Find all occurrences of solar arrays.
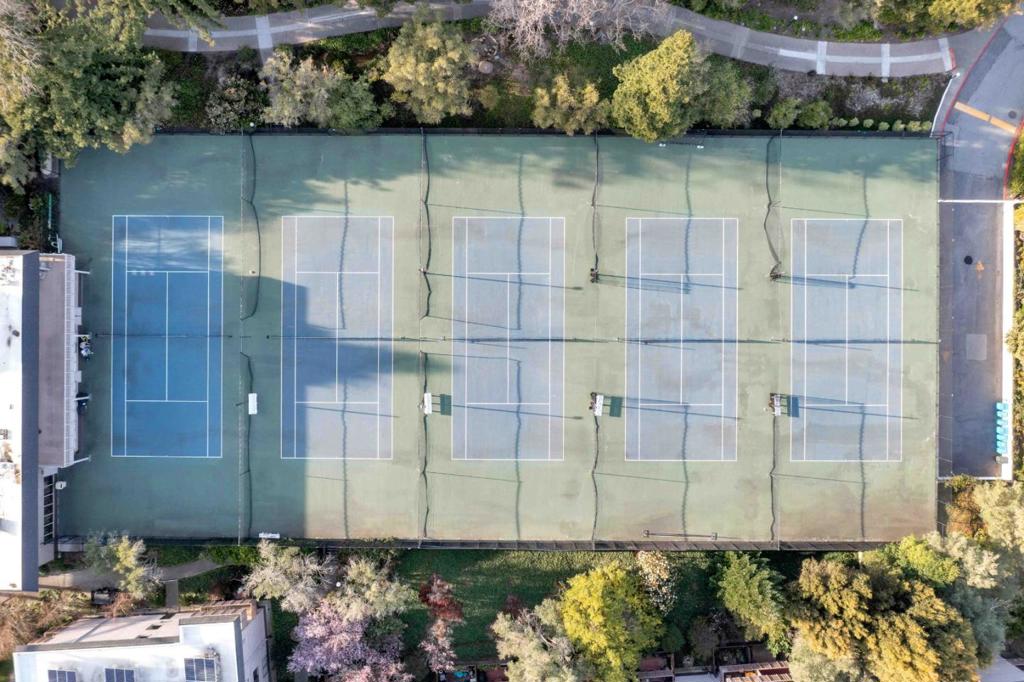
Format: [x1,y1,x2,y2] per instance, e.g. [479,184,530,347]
[105,667,141,682]
[185,658,221,682]
[48,669,83,682]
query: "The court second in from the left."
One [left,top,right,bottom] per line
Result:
[251,135,427,541]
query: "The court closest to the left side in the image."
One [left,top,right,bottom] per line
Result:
[56,136,253,539]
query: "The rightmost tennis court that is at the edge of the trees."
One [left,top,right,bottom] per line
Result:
[774,138,939,543]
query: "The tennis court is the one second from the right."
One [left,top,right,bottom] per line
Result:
[596,137,776,542]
